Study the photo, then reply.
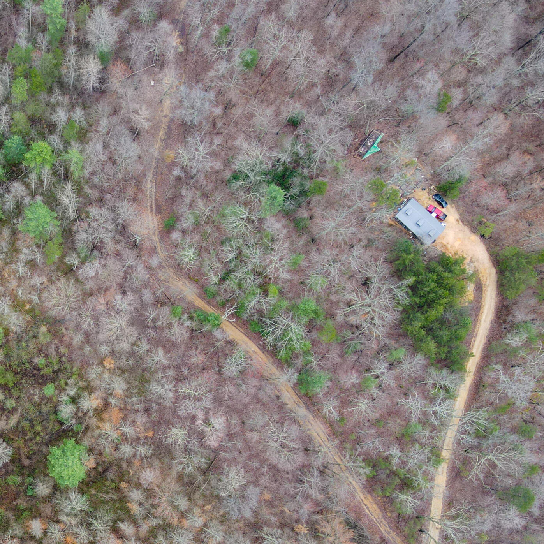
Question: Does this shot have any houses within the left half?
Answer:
No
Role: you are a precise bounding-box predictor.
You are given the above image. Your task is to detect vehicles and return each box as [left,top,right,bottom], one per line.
[432,192,447,209]
[425,204,448,221]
